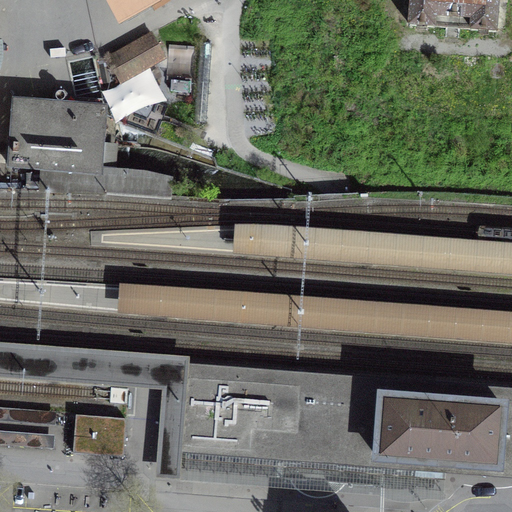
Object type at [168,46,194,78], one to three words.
shed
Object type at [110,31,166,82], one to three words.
house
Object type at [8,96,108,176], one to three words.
building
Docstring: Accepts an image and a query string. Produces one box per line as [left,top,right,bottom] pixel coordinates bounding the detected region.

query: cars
[70,42,94,53]
[14,484,24,505]
[472,485,496,496]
